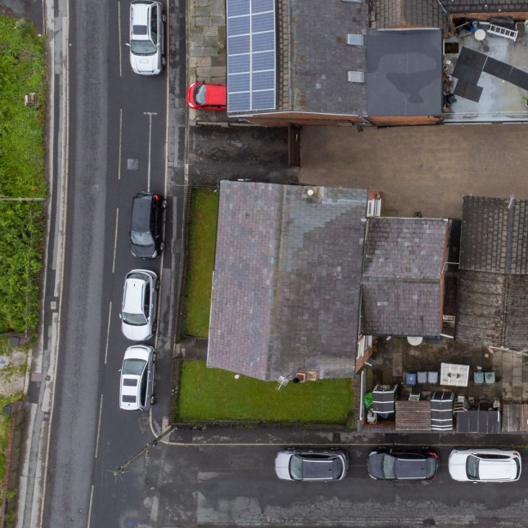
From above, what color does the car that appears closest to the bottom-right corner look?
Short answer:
white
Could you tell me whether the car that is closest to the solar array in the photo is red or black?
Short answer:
red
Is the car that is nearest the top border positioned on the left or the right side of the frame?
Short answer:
left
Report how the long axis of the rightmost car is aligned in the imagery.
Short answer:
from side to side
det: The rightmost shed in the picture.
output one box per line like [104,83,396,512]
[503,397,528,431]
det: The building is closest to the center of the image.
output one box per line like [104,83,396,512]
[206,180,377,384]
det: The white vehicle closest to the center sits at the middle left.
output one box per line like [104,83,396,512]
[121,270,159,340]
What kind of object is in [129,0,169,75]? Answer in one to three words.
car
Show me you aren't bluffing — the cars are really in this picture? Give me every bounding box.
[129,0,169,75]
[120,344,157,409]
[451,447,521,482]
[187,79,225,111]
[130,192,167,257]
[369,445,437,481]
[277,446,348,483]
[121,270,159,340]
